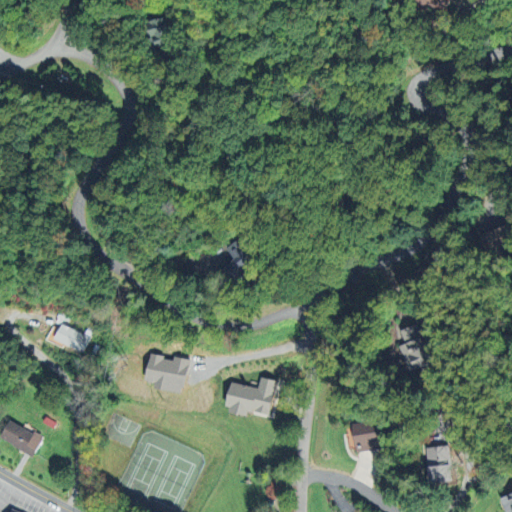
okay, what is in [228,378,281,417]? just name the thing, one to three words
house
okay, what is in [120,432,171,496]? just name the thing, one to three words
tennis court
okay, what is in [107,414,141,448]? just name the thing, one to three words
basketball court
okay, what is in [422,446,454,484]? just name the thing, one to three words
house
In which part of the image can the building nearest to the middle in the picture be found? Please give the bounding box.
[226,242,248,272]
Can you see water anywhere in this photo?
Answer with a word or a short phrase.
No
